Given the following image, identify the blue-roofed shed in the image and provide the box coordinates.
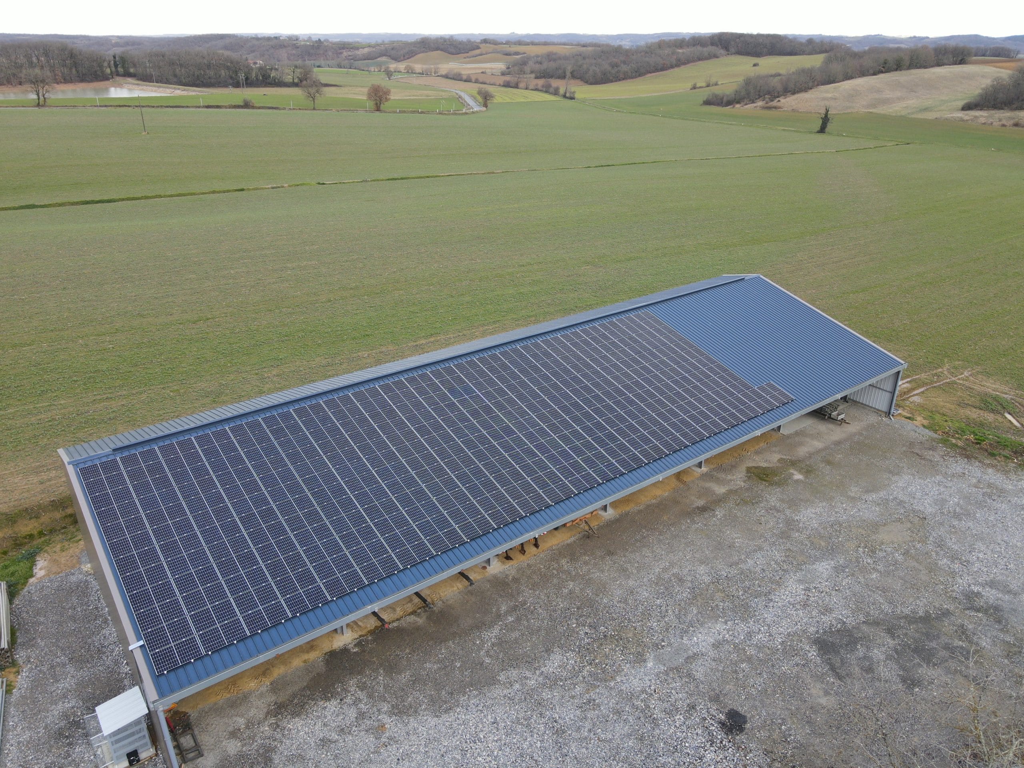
[56,274,910,768]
